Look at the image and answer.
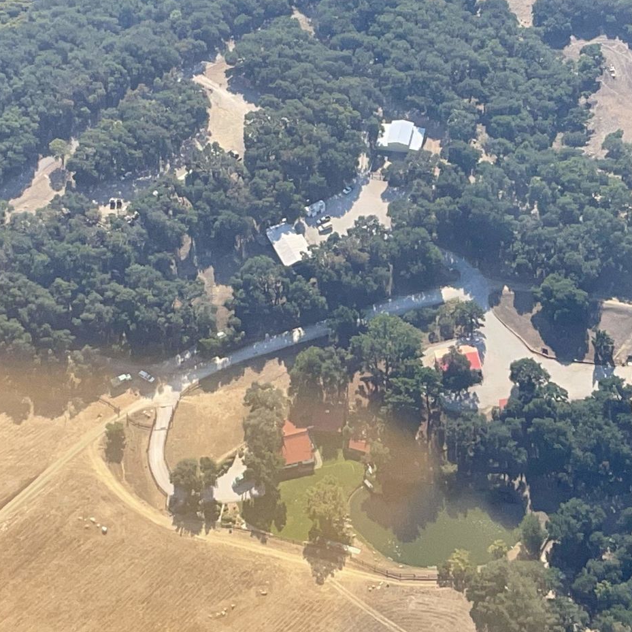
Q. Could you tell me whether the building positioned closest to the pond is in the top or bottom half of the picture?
bottom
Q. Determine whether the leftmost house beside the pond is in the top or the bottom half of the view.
bottom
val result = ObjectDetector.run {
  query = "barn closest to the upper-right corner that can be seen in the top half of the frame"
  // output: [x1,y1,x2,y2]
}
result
[372,114,431,155]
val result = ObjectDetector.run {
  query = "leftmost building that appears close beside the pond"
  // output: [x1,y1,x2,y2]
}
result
[277,403,351,482]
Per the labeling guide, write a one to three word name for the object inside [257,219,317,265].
shed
